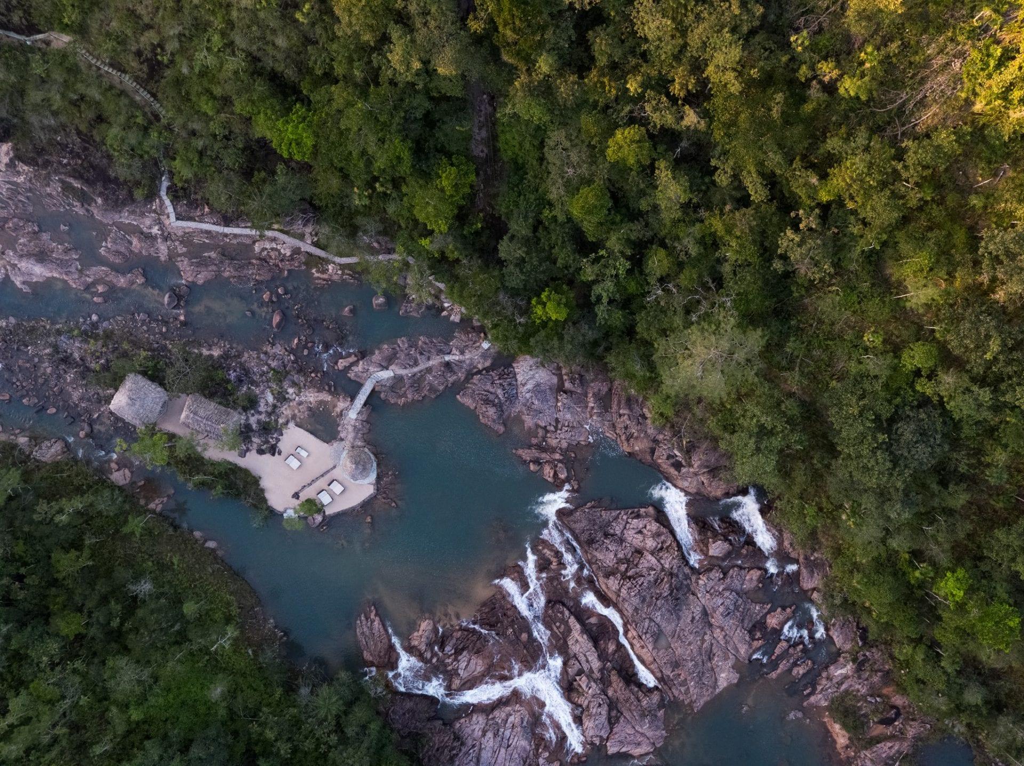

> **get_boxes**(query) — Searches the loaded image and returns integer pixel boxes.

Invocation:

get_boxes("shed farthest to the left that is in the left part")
[107,367,175,433]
